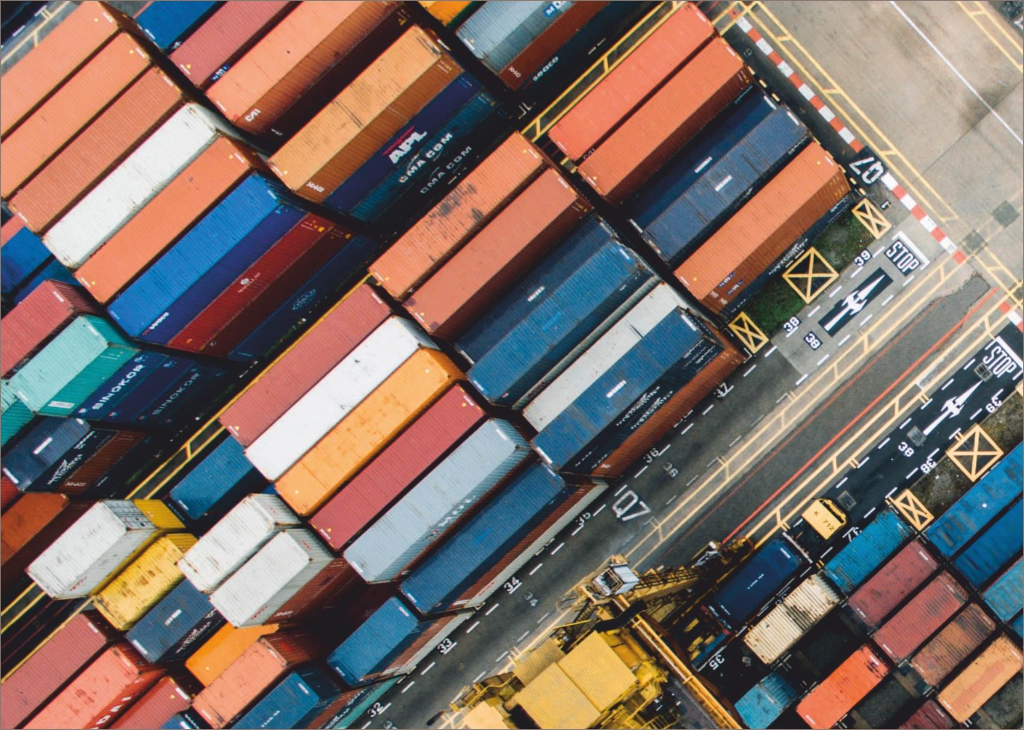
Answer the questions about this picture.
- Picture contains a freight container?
Yes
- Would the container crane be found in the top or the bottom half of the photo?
bottom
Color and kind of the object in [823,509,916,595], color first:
blue shipping container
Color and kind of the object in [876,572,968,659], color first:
red shipping container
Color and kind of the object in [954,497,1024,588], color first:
blue shipping container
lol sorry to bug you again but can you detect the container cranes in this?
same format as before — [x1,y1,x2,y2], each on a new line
[439,537,757,730]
